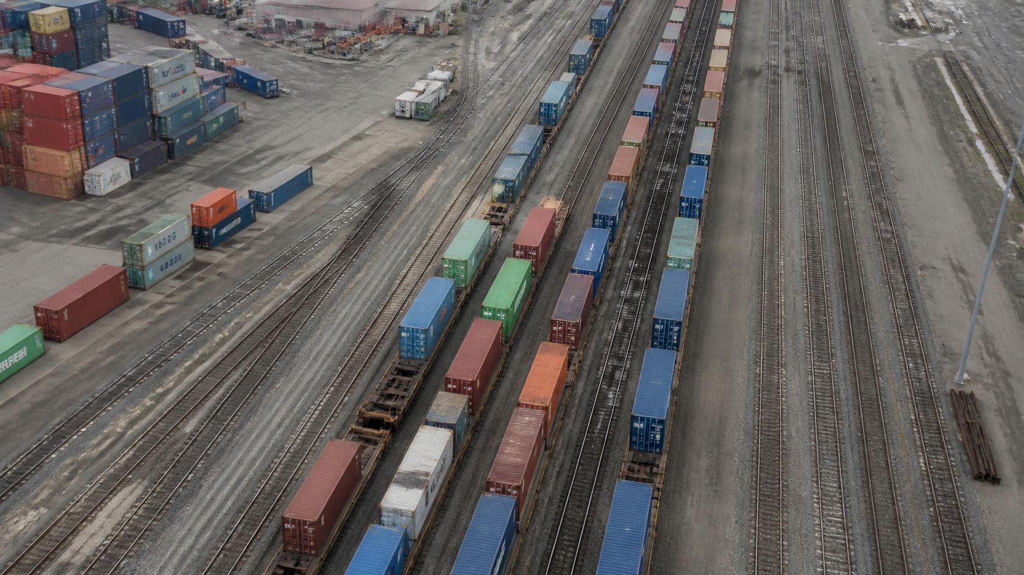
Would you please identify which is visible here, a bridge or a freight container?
freight container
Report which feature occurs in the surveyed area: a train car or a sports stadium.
train car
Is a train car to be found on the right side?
Yes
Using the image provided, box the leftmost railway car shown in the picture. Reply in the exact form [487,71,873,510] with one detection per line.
[262,444,383,575]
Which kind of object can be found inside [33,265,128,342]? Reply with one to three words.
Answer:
shipping container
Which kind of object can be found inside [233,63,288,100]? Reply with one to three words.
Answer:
shipping container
